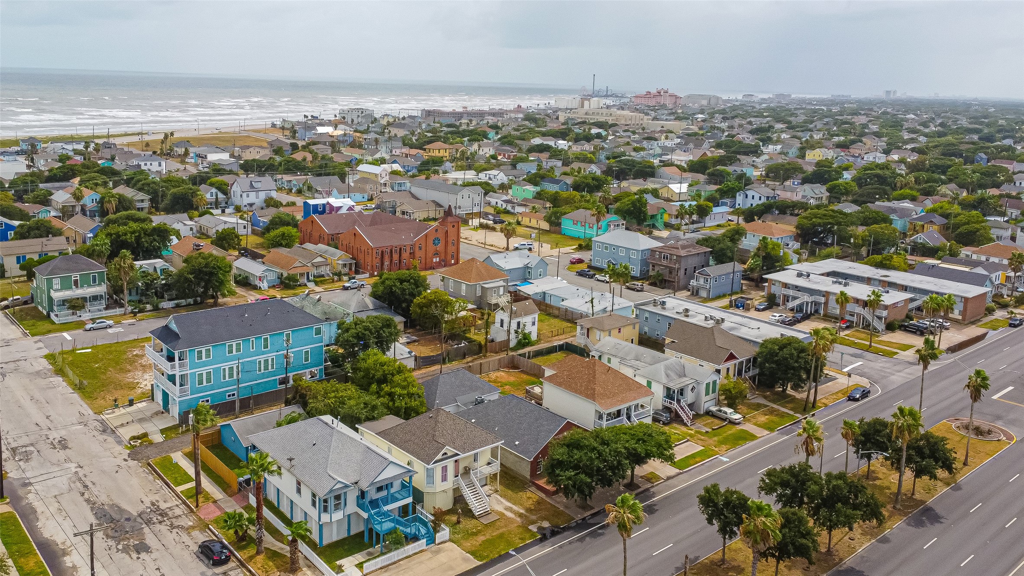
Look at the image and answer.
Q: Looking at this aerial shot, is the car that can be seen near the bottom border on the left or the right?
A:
left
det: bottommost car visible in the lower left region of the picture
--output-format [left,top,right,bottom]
[199,540,234,568]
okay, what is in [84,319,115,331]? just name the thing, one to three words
vehicle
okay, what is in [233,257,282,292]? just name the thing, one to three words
house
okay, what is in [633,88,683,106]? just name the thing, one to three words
building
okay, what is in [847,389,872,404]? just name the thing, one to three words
car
